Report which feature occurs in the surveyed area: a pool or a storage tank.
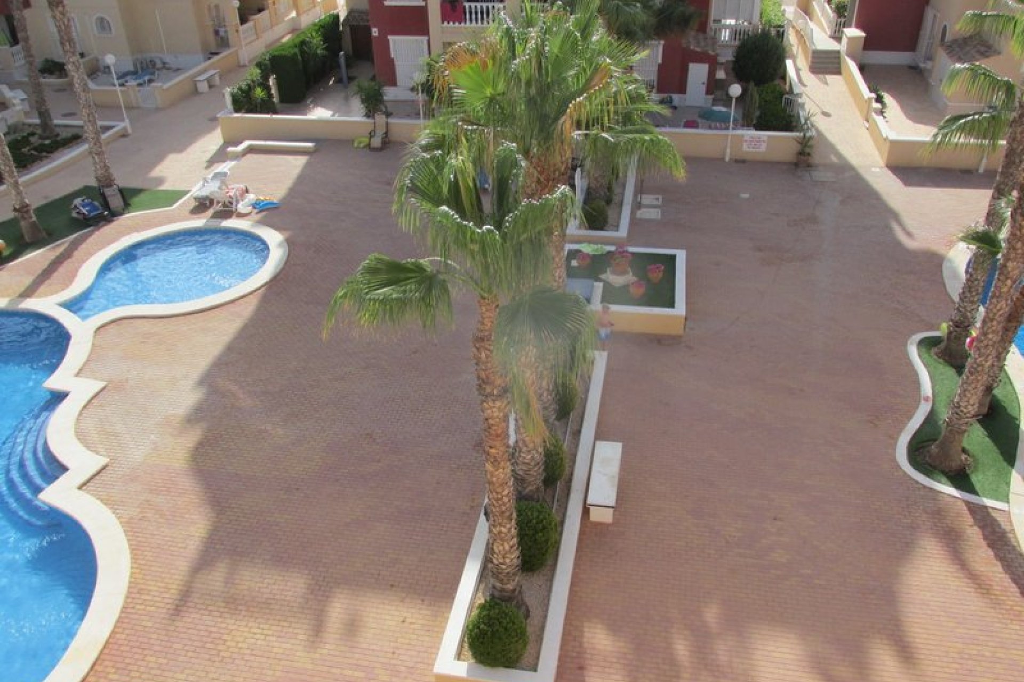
pool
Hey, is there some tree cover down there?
Yes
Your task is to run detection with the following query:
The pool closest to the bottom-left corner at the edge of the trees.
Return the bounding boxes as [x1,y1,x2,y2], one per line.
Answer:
[0,217,288,682]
